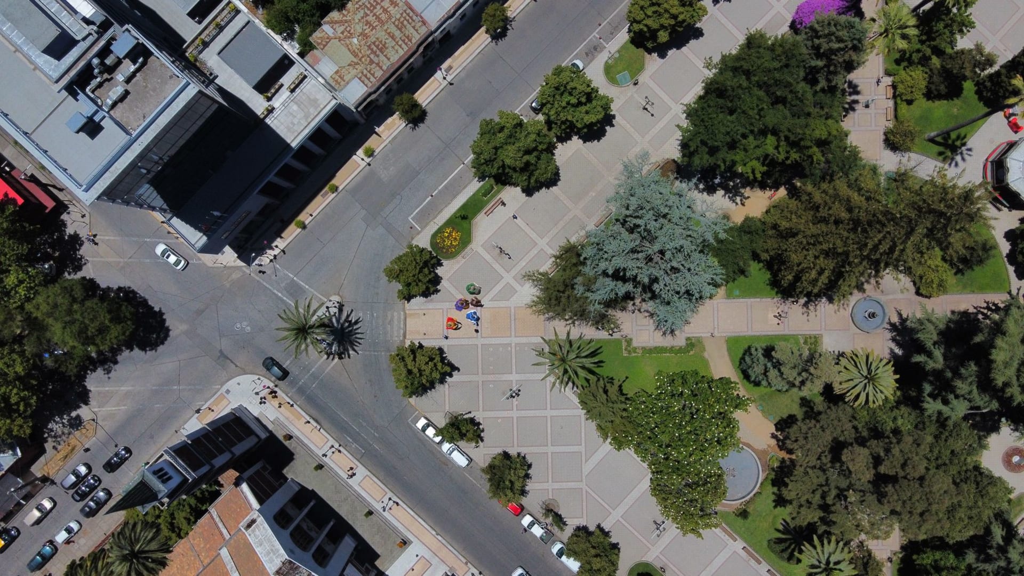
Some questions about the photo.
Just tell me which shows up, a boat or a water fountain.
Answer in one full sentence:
There is a water fountain in the scene.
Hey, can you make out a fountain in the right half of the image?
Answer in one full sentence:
Yes, a fountain is visible in the right half of the image.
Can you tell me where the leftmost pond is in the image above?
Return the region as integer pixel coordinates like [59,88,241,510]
[701,445,762,506]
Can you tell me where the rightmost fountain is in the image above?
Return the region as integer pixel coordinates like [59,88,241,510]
[850,297,889,333]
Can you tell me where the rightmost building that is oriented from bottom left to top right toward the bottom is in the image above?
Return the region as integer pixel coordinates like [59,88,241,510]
[98,404,270,513]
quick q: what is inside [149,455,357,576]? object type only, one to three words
church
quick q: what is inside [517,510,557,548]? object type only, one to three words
truck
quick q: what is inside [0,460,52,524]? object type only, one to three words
building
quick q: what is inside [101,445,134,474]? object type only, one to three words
car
